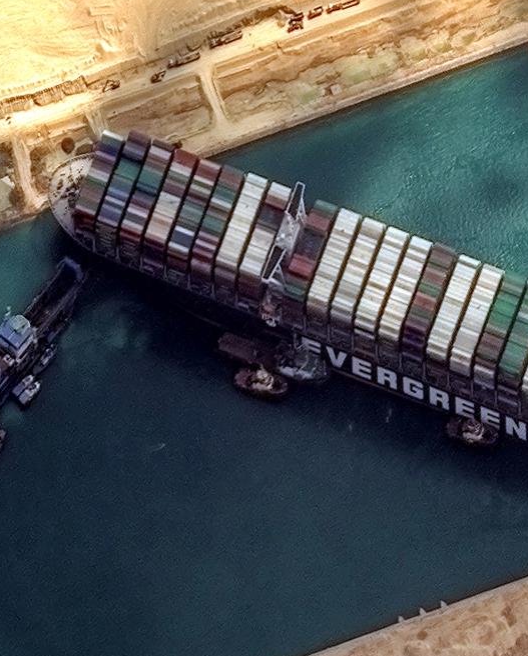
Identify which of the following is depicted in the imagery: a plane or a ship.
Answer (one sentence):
Visible in the photo is a ship.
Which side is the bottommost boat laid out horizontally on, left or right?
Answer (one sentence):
It is on the right.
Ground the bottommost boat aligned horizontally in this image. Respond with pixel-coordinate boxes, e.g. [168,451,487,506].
[447,420,497,450]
